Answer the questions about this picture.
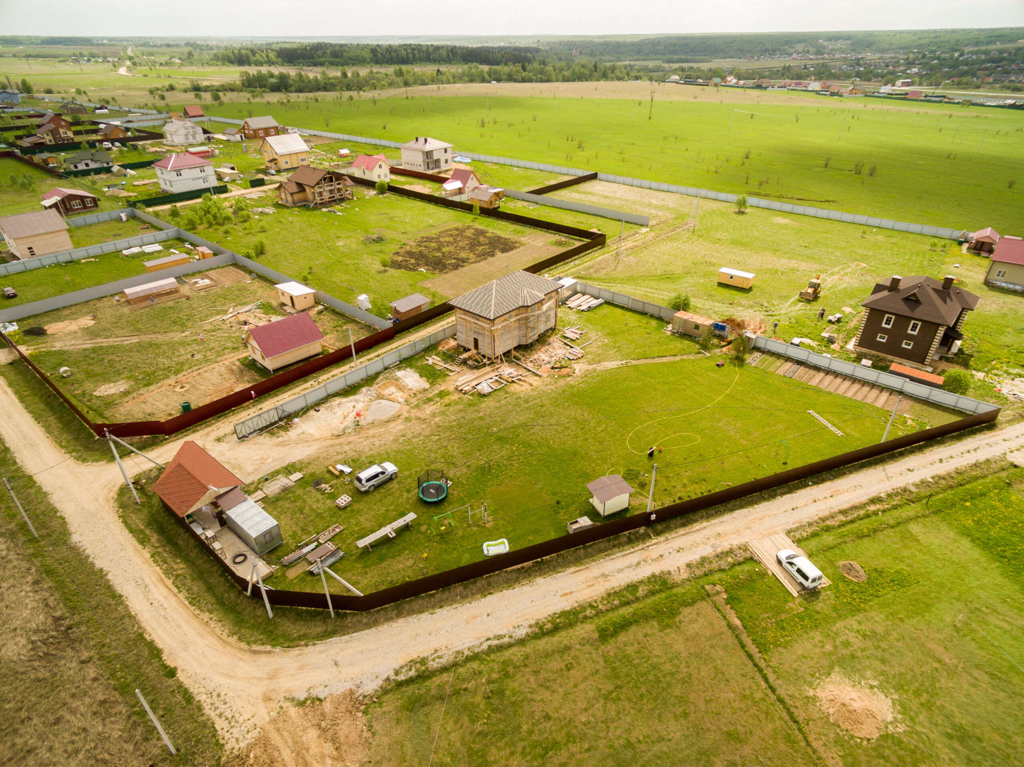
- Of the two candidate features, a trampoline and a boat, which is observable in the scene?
trampoline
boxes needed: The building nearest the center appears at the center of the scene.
[450,269,575,366]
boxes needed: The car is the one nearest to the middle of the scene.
[353,461,400,493]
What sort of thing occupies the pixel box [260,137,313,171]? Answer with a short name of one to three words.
house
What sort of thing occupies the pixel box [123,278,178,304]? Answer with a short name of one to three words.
greenhouse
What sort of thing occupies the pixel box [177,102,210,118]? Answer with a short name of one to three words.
barn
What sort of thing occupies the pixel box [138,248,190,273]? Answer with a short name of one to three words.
shed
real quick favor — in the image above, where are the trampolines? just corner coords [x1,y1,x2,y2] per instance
[418,470,448,507]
